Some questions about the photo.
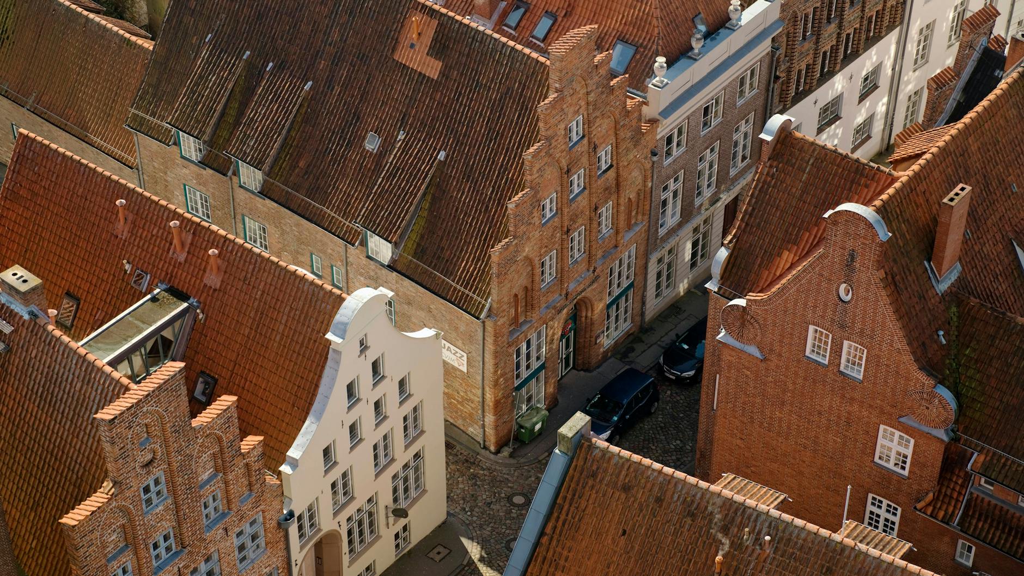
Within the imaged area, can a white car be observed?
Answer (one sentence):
No, the scene contains no white car.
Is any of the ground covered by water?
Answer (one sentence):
No, there's no water in this view.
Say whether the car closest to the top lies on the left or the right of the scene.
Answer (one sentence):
It is on the right.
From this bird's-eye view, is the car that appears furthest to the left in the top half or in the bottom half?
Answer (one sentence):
The car that appears furthest to the left is in the bottom half of the image.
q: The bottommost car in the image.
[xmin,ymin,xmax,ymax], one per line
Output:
[578,368,663,446]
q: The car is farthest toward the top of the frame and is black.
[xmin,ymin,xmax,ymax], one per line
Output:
[654,312,704,393]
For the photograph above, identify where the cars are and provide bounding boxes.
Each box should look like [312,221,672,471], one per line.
[578,368,663,446]
[654,312,704,393]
